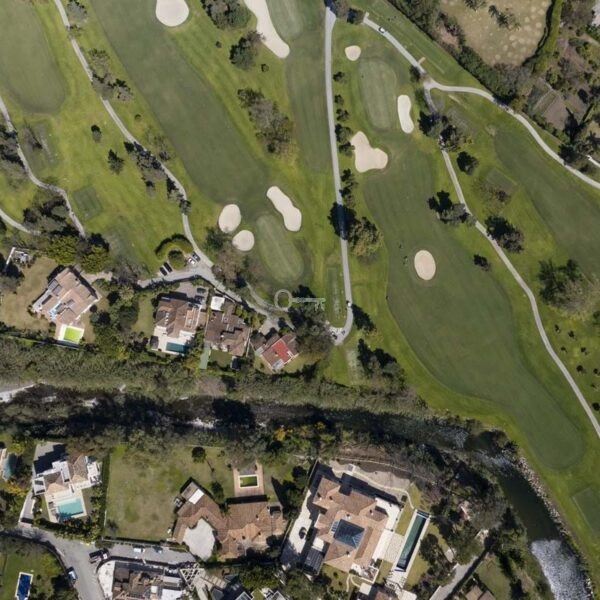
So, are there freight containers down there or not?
No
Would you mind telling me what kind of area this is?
golf course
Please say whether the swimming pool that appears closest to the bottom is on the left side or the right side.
left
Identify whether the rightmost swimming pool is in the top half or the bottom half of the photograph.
bottom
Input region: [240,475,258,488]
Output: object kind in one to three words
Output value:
swimming pool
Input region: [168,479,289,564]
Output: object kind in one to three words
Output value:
house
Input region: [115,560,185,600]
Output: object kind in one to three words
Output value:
house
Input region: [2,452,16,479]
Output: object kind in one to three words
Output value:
swimming pool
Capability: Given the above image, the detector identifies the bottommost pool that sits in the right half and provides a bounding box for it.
[393,510,431,573]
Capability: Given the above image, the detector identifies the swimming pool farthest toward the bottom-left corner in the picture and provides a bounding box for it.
[13,573,33,600]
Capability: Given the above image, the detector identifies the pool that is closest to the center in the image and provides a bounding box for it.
[165,342,187,354]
